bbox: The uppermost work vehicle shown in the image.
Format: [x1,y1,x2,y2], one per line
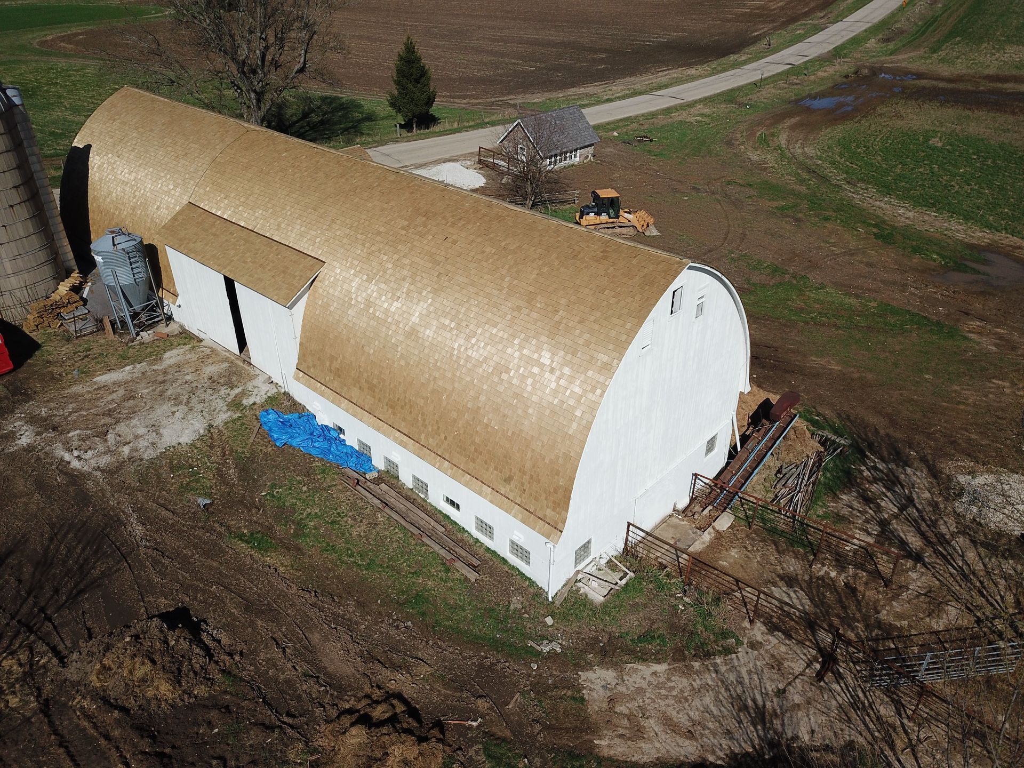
[581,183,663,239]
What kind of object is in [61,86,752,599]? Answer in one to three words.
barn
